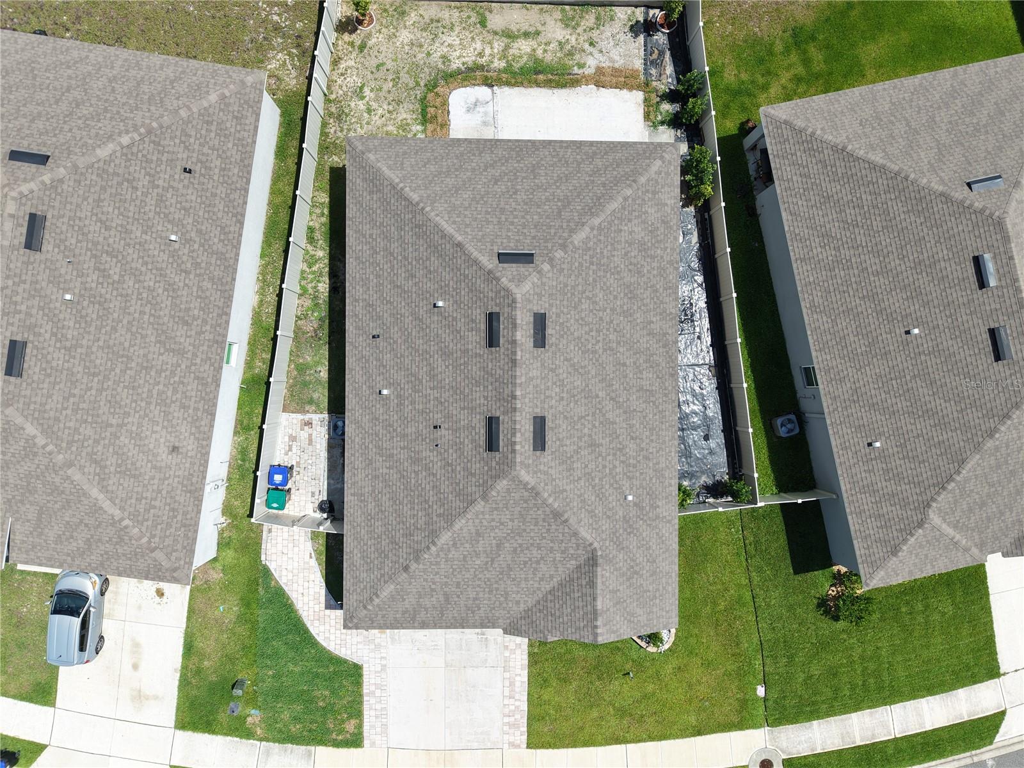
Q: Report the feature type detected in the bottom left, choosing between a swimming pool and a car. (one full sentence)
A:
The one visible in the bottom left is a car.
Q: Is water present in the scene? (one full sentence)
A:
No, water can't be seen anywhere here.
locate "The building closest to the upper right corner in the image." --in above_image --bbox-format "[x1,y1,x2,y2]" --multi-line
[744,54,1024,590]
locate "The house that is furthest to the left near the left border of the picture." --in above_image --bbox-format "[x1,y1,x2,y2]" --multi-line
[0,35,283,587]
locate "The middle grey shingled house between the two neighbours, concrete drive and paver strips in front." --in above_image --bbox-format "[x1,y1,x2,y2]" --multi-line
[341,136,682,646]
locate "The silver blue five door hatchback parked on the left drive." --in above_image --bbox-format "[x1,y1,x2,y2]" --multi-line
[44,569,110,664]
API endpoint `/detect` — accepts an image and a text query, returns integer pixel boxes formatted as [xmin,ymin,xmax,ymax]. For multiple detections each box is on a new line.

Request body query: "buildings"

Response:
[744,54,1024,590]
[0,35,283,587]
[341,136,682,646]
